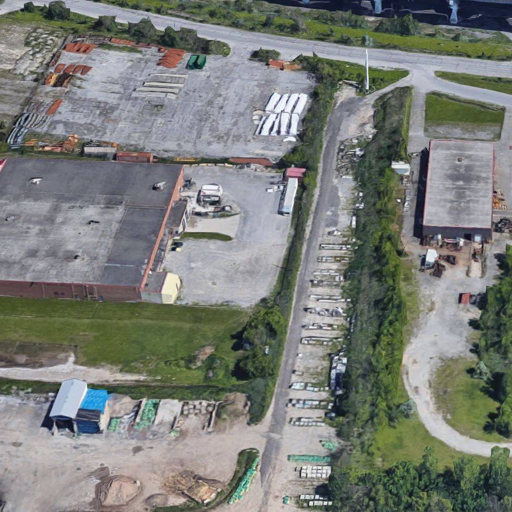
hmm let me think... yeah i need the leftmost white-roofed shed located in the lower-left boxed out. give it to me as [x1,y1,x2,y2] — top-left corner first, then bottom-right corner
[49,378,88,435]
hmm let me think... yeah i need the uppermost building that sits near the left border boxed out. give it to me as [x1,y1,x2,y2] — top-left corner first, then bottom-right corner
[0,157,190,304]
